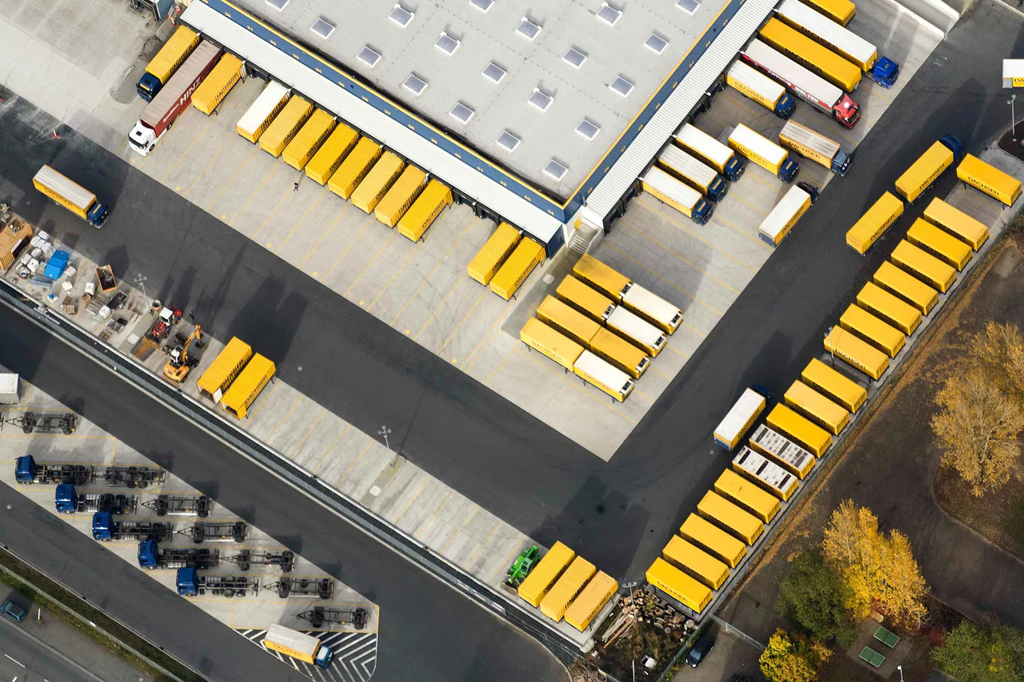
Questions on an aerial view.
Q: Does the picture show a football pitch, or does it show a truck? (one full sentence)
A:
Looking from above, you can make out a truck.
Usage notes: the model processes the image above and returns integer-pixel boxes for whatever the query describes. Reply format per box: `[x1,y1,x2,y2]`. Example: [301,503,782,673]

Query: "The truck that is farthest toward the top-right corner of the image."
[1003,60,1024,92]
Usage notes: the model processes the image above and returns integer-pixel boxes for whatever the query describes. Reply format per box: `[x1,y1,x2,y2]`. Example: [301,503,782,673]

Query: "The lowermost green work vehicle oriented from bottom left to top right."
[501,541,545,593]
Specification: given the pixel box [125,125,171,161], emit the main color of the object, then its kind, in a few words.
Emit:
white truck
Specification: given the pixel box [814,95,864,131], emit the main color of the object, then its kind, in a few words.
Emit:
red truck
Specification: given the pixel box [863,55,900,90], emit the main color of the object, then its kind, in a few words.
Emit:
blue truck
